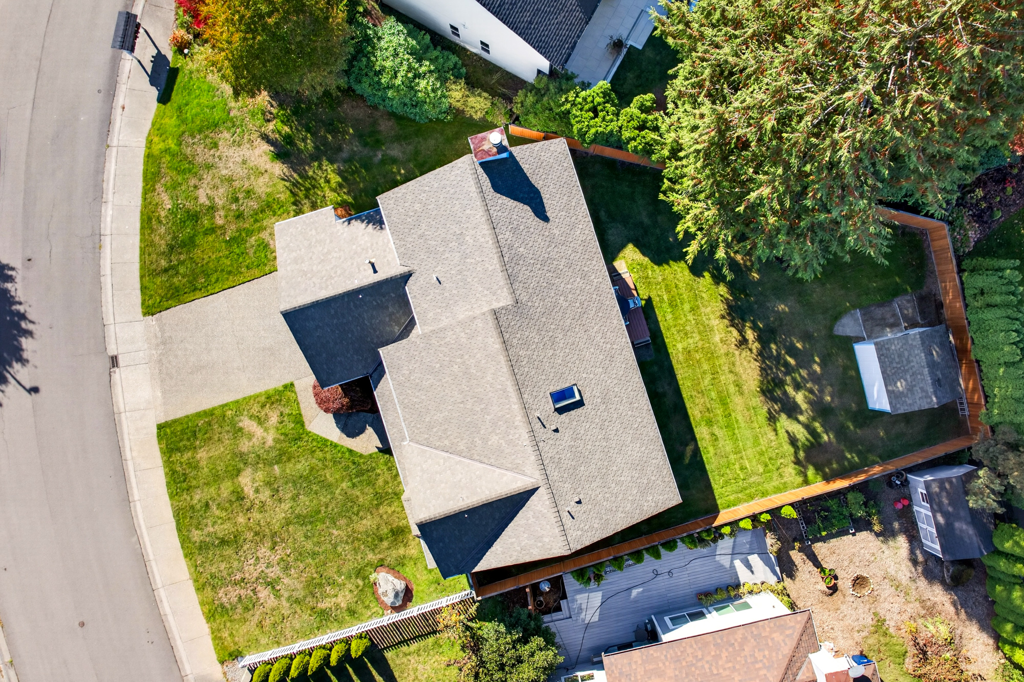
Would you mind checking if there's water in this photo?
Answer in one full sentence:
No, water can't be seen anywhere here.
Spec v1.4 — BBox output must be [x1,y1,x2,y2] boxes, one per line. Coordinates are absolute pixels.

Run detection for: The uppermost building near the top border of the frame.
[380,0,599,92]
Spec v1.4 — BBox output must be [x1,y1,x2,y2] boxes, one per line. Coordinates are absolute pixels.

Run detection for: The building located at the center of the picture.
[274,125,684,581]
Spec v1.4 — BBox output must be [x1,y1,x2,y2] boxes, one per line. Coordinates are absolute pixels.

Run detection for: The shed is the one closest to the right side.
[909,464,1005,563]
